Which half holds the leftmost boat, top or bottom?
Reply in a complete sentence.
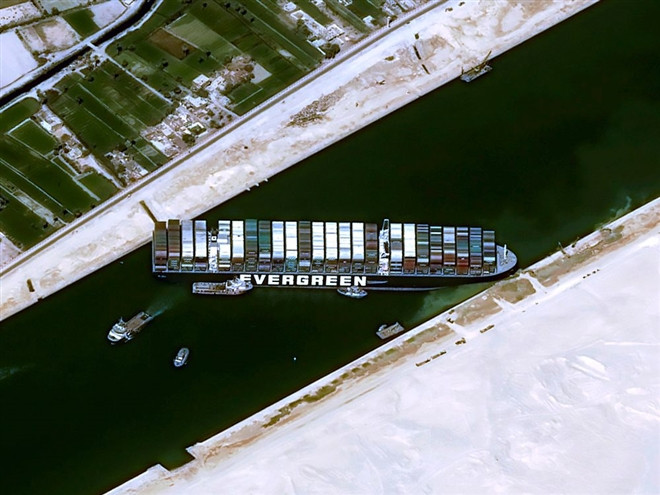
The bottom half of the photo is where the leftmost boat is.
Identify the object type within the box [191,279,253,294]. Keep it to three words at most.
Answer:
boat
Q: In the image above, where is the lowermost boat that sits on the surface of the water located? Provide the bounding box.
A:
[173,346,191,366]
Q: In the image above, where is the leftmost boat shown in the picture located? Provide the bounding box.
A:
[108,307,154,338]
